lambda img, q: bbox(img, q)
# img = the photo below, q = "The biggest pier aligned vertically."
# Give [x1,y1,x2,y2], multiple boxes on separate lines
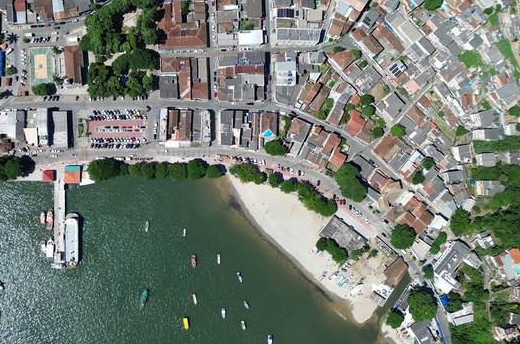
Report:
[53,179,67,268]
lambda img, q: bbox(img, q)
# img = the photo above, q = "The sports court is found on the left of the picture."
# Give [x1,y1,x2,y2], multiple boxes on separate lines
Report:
[29,46,53,83]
